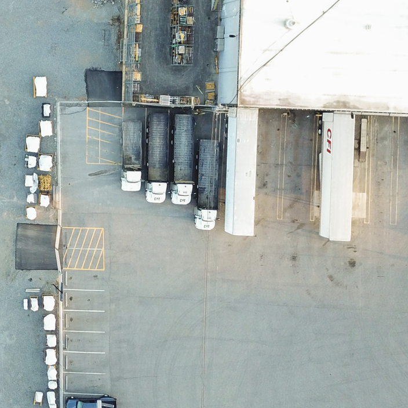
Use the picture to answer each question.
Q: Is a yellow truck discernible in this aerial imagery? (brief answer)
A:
No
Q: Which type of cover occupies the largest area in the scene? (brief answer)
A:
paved ground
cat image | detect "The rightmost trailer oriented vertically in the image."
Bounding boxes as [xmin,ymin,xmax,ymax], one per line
[316,115,356,239]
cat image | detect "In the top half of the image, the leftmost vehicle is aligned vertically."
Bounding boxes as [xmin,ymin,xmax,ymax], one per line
[116,121,144,191]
